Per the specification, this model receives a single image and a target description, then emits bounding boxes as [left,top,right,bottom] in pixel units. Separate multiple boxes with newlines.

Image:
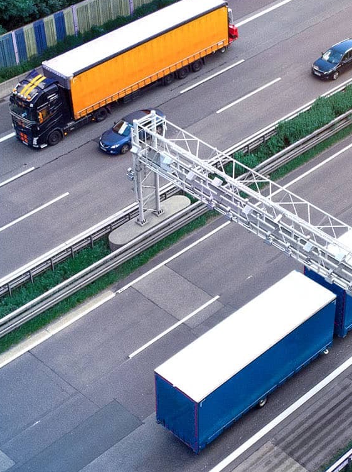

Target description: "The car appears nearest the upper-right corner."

[307,37,352,80]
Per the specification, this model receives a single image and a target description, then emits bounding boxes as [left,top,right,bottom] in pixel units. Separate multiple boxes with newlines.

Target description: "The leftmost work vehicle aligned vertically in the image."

[225,9,238,50]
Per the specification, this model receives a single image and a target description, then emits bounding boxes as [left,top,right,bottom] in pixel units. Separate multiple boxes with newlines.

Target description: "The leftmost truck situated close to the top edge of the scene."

[2,0,227,150]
